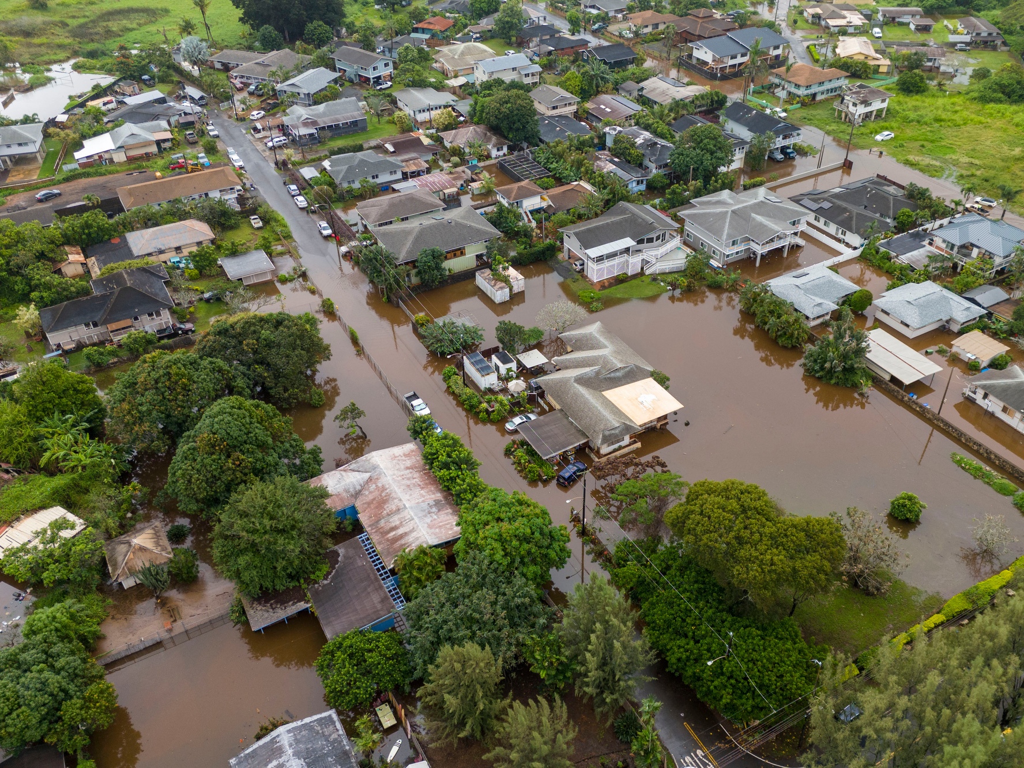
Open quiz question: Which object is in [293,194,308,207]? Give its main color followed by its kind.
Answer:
white vehicle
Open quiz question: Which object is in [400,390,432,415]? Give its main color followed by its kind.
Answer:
white truck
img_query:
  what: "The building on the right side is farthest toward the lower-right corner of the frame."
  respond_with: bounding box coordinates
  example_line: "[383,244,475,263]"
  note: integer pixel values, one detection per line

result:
[964,365,1024,440]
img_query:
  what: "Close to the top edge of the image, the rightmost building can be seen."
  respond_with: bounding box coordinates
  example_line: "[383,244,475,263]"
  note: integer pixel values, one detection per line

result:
[945,14,1005,48]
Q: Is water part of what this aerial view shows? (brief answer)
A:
Yes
